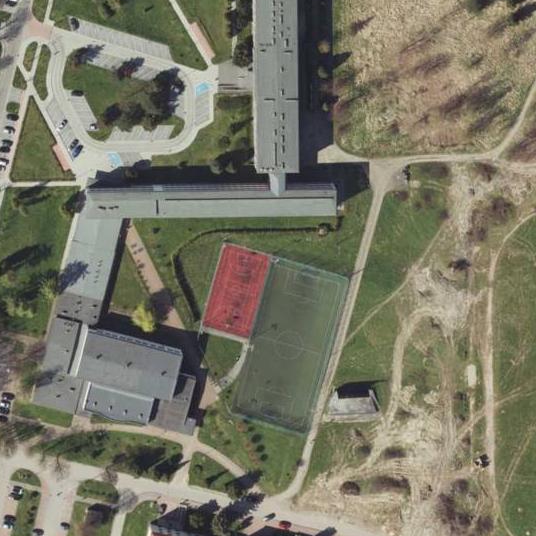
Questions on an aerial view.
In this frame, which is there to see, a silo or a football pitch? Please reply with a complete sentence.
The image shows a football pitch.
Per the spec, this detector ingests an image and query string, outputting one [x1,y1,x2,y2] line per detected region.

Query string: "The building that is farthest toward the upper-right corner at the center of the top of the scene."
[250,0,299,173]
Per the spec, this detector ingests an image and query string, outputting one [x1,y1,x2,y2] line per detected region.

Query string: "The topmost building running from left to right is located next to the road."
[81,181,336,218]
